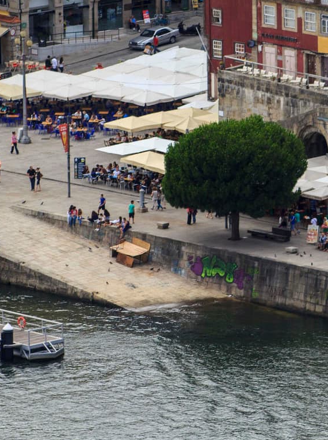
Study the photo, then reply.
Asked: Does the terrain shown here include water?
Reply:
Yes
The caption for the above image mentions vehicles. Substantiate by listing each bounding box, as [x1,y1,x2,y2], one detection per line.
[128,29,181,50]
[180,21,203,37]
